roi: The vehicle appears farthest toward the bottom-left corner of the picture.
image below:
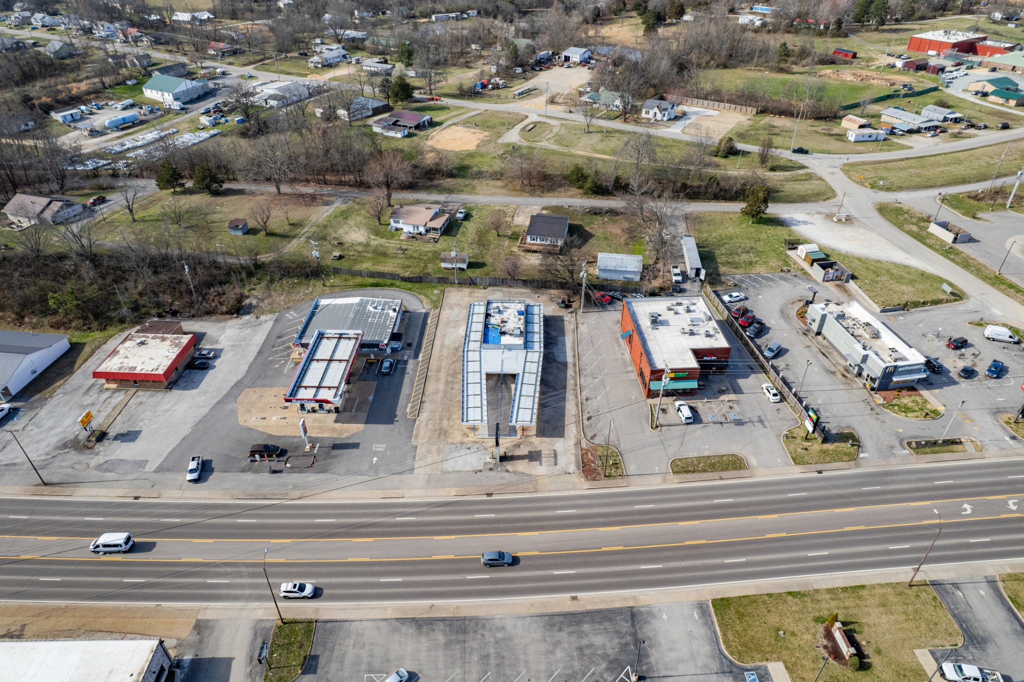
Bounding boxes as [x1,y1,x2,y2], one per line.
[90,529,135,554]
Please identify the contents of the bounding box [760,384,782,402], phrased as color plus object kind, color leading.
white car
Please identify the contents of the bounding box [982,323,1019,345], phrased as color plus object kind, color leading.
white vehicle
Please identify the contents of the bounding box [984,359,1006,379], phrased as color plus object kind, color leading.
blue vehicle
